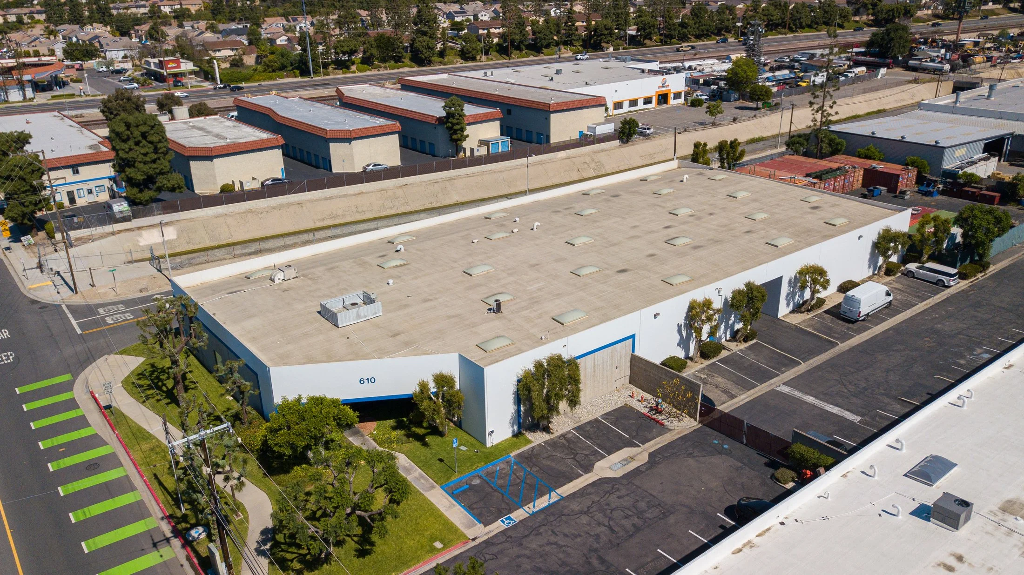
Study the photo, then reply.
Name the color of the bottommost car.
black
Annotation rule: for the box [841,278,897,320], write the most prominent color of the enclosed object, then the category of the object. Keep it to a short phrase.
white van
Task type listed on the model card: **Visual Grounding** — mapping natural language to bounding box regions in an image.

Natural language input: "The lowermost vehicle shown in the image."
[735,482,794,517]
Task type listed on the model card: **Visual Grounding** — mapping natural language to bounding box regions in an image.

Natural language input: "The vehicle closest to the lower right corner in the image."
[807,429,864,453]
